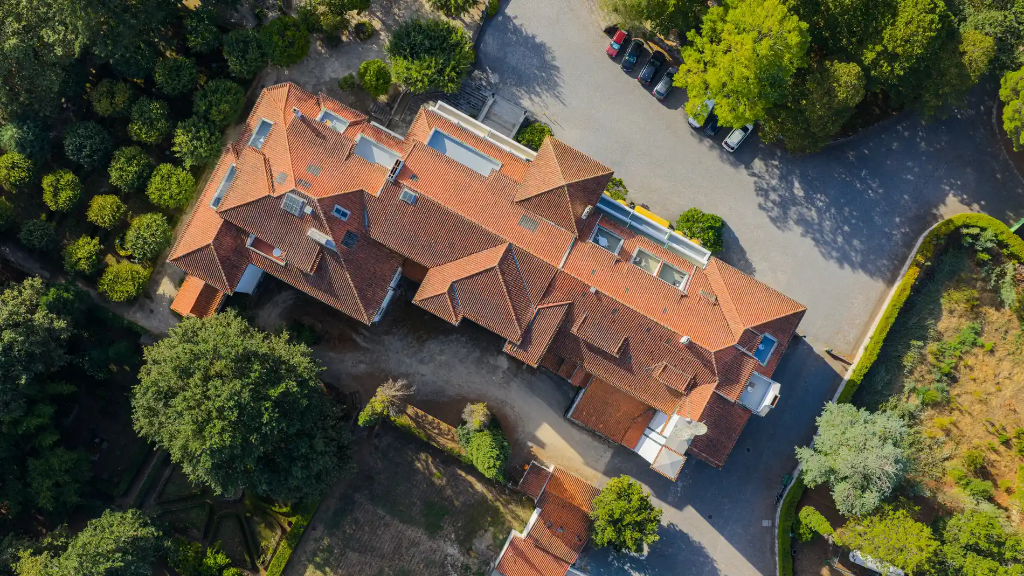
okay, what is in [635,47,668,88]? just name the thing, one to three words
car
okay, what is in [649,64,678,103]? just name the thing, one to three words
car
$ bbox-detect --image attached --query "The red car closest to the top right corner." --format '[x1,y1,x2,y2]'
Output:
[603,25,630,61]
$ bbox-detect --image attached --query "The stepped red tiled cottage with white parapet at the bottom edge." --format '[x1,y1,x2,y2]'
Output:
[484,454,601,576]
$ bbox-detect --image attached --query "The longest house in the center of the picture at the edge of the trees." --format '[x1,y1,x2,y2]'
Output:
[166,80,808,480]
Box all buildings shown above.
[166,80,808,480]
[484,454,601,576]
